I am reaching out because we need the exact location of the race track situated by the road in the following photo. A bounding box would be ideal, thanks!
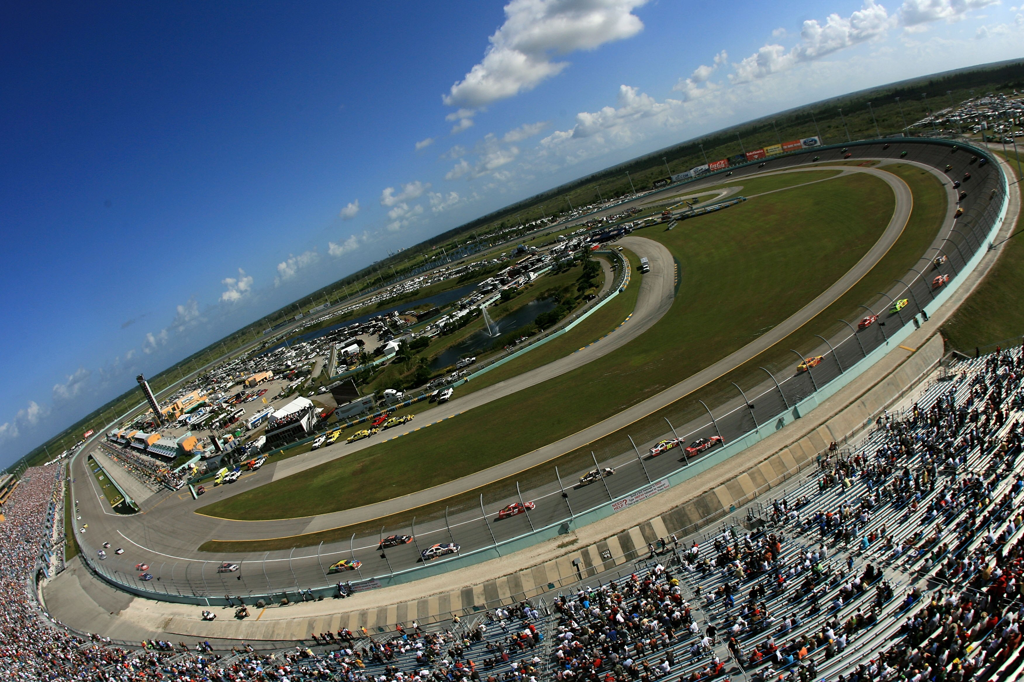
[72,140,1003,595]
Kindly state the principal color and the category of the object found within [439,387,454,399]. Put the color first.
white vehicle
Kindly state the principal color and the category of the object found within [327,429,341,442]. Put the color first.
yellow vehicle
